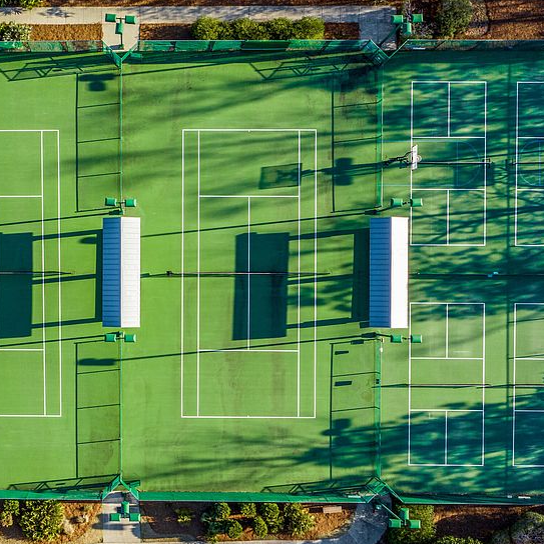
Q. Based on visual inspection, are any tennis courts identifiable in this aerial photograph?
Yes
